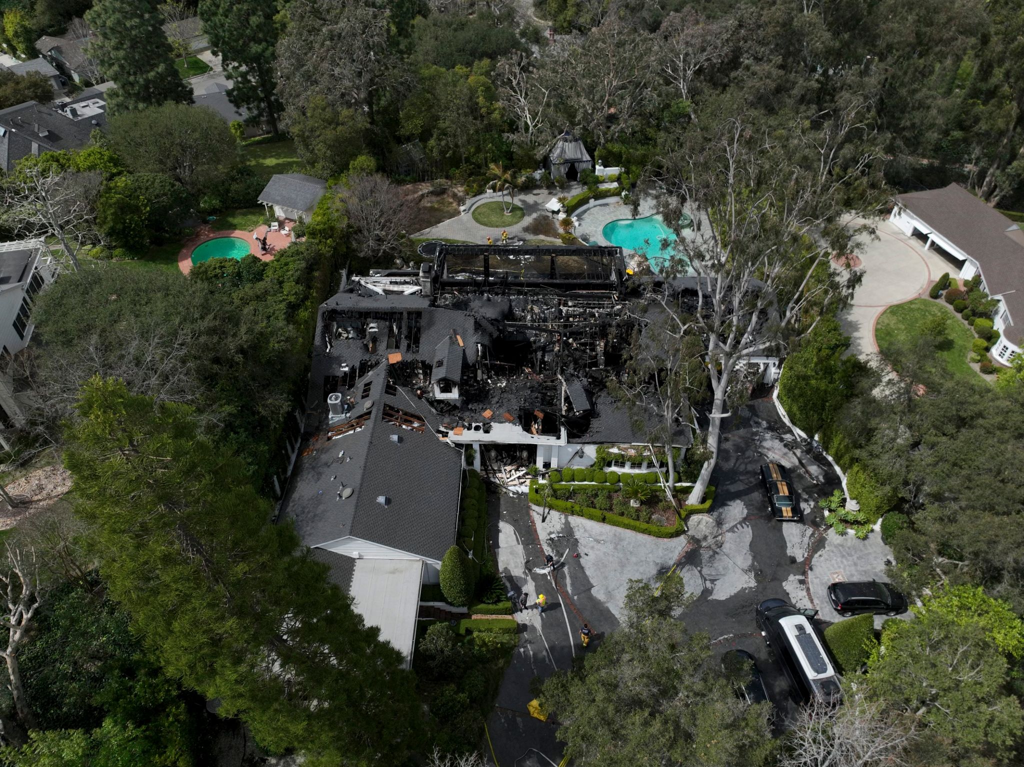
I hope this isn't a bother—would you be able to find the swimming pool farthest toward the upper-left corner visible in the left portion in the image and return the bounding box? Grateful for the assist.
[186,235,254,276]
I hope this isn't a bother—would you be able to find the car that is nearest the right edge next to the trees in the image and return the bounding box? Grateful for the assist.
[825,580,912,619]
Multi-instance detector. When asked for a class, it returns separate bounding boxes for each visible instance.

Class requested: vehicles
[757,595,849,731]
[759,463,802,522]
[825,580,912,619]
[804,434,820,449]
[722,654,788,742]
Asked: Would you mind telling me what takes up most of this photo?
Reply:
trees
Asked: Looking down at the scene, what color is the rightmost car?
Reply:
black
